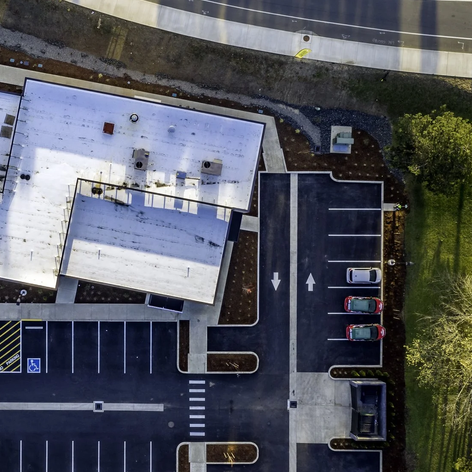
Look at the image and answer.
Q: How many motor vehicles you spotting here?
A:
3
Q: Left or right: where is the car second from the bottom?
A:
right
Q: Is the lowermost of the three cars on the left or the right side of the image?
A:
right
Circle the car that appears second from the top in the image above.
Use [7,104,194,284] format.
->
[343,296,381,316]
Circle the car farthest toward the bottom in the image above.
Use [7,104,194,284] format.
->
[344,323,382,343]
